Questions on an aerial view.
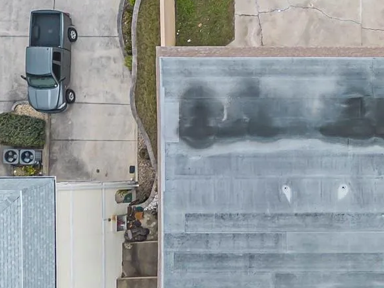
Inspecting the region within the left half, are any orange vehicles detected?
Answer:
No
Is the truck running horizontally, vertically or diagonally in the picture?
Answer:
vertically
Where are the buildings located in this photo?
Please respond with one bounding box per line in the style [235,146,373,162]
[156,45,384,288]
[0,177,135,288]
